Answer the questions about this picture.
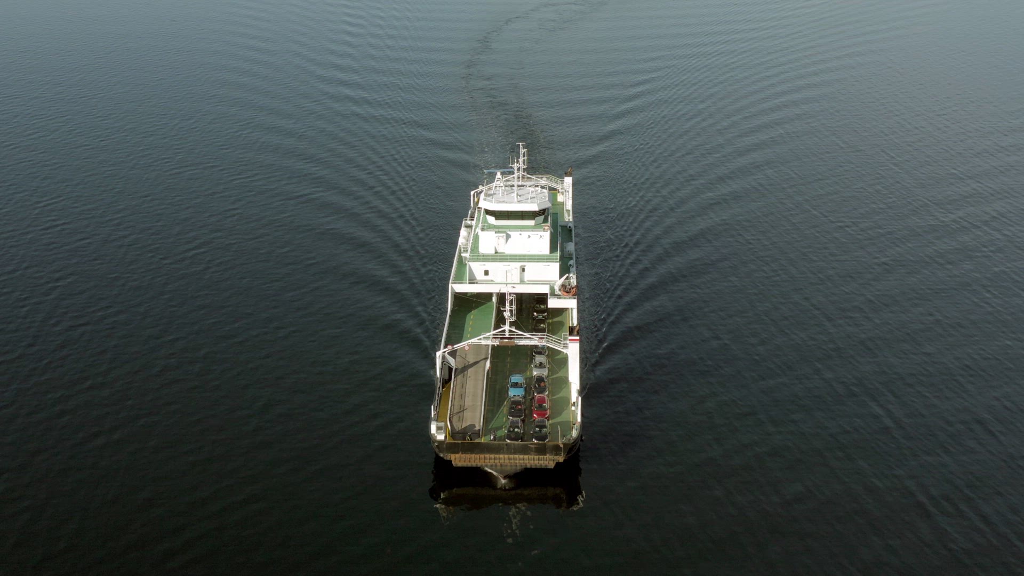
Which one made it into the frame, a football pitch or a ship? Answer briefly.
ship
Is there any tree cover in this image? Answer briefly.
No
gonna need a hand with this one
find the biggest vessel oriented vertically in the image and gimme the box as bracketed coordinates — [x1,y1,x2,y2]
[430,144,582,482]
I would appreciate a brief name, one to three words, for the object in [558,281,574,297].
boat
